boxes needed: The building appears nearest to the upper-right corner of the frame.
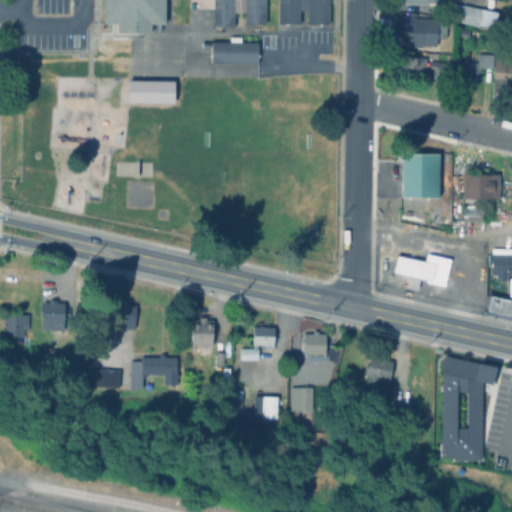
[462,6,501,28]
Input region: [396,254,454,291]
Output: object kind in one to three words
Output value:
building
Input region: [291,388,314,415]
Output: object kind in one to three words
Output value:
shed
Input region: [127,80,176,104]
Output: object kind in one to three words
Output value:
building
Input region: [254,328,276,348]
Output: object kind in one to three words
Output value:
house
